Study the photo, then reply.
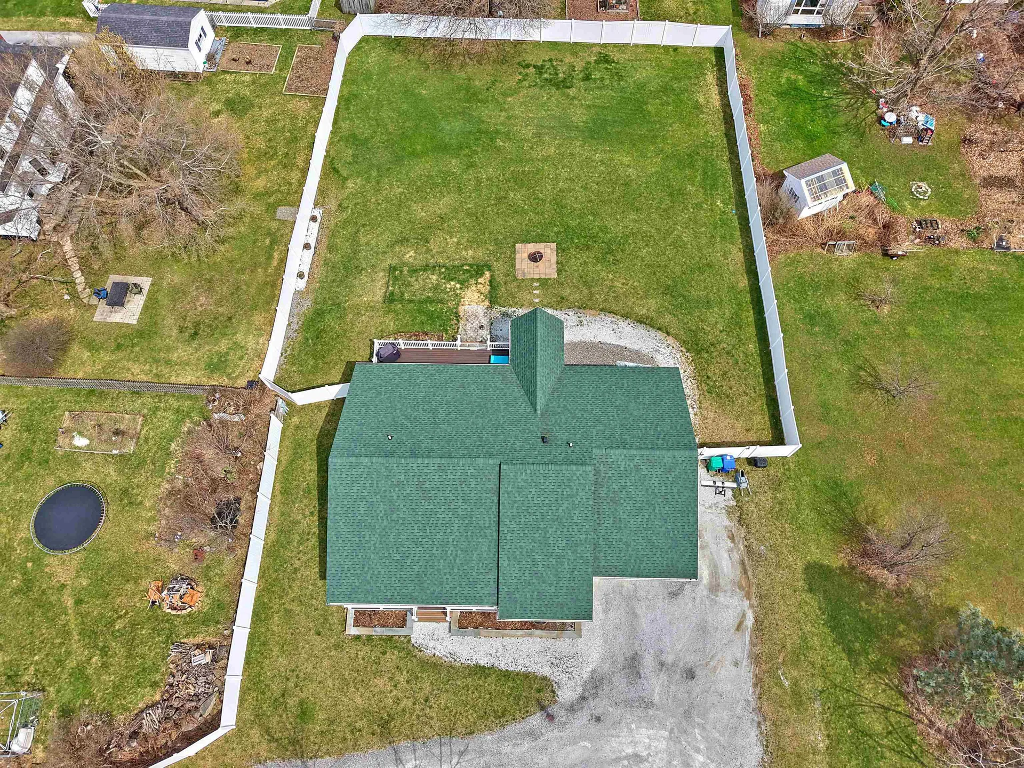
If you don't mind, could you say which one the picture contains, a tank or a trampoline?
trampoline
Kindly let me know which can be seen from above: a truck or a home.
home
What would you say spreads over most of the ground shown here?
grass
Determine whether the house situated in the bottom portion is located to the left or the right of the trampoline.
to the right of it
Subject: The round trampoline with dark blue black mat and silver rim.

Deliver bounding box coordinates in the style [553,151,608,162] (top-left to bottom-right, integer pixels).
[32,482,112,555]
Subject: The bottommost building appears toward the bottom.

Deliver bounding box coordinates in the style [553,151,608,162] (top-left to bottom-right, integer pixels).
[327,307,699,622]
